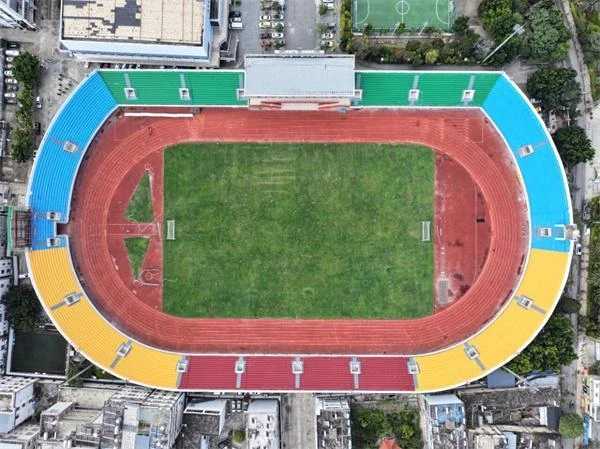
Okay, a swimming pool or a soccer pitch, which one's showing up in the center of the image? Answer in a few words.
soccer pitch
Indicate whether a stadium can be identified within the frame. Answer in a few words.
Yes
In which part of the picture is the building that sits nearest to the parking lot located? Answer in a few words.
top left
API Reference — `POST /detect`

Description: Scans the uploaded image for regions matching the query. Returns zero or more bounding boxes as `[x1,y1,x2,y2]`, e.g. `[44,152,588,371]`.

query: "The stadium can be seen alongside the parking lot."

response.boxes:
[26,50,579,392]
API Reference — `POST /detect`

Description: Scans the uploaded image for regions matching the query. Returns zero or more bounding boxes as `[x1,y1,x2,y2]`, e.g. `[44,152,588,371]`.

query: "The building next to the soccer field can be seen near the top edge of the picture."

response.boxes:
[59,0,230,69]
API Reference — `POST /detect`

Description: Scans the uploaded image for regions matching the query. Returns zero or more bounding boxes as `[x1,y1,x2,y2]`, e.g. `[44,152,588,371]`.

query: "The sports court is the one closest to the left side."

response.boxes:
[7,326,72,377]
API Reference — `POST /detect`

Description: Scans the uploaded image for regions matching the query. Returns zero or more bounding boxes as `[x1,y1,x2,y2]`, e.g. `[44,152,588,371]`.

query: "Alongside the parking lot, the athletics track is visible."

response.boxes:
[54,107,530,354]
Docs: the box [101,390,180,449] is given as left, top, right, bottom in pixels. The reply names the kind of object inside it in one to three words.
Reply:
building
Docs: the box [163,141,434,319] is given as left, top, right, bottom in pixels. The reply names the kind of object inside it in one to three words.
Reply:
soccer field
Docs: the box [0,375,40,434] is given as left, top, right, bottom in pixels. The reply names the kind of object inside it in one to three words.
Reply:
building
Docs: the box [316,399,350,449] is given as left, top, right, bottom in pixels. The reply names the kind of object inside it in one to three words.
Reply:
house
